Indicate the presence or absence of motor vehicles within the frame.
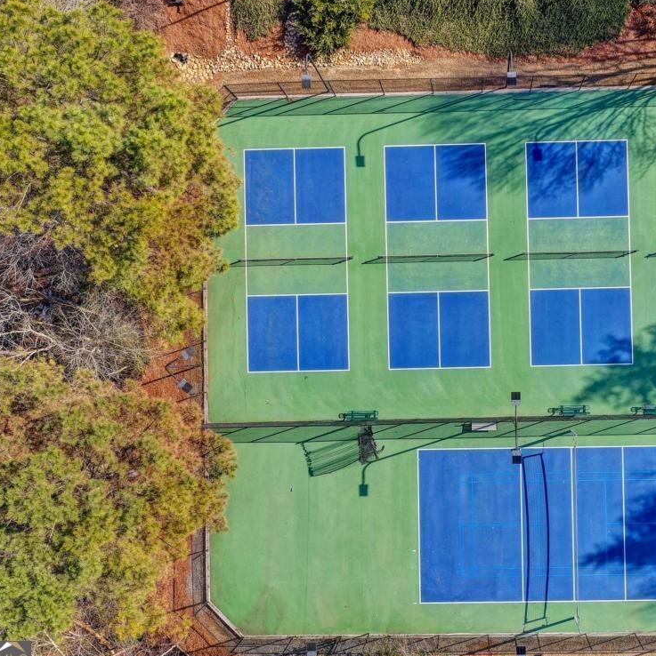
No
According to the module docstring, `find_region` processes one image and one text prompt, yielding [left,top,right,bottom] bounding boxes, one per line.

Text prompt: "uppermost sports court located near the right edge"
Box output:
[526,140,634,367]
